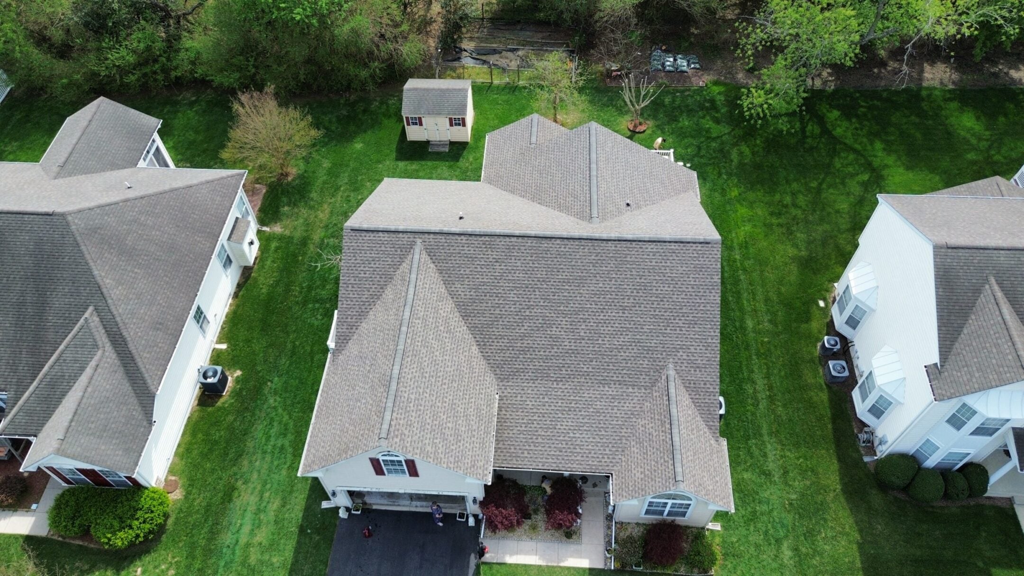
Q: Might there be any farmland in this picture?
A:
No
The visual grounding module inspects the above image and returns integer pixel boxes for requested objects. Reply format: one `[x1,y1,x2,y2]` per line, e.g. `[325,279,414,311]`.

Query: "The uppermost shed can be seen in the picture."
[402,76,473,150]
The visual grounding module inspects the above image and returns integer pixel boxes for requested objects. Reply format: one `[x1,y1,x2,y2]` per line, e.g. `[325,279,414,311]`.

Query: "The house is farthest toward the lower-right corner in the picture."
[826,175,1024,511]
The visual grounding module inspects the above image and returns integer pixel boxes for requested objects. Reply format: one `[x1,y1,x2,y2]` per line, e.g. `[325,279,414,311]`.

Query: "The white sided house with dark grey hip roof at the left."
[0,96,263,485]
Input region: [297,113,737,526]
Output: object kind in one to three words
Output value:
house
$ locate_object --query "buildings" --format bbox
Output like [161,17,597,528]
[297,113,737,526]
[402,76,473,150]
[0,96,263,485]
[826,175,1024,511]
